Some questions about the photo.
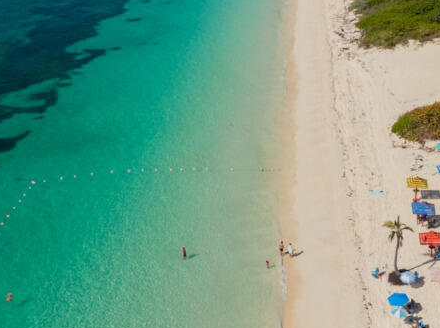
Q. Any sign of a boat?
No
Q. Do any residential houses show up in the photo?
No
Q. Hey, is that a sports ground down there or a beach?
beach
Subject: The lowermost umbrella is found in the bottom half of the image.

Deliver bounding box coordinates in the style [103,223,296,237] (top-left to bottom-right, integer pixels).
[391,301,414,324]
